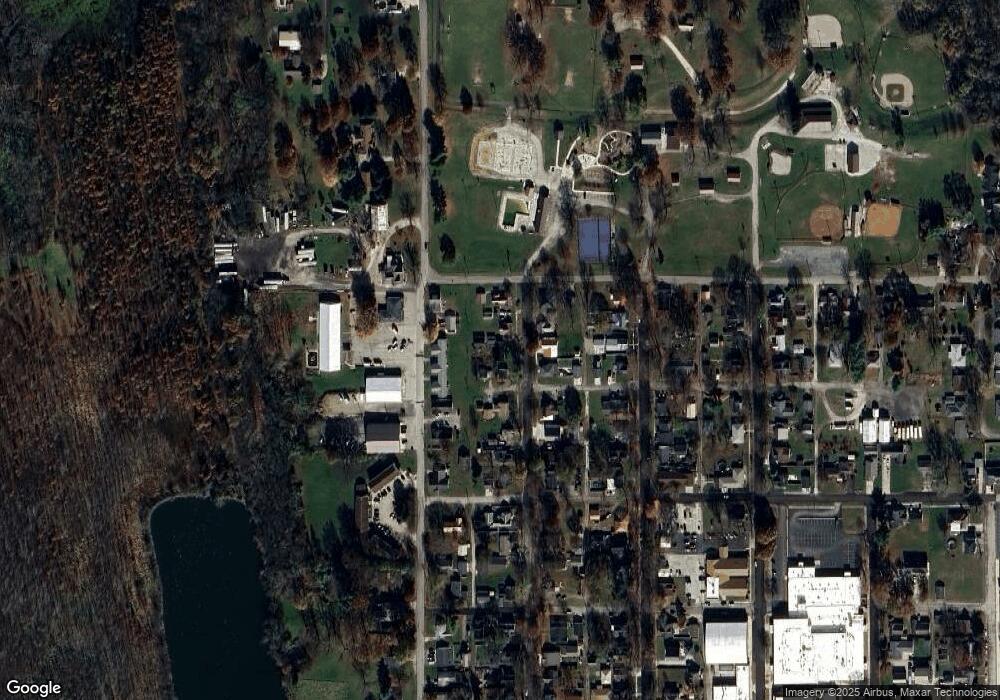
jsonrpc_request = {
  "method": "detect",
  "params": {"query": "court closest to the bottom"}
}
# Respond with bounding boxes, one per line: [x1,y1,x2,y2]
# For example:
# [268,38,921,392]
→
[578,219,610,263]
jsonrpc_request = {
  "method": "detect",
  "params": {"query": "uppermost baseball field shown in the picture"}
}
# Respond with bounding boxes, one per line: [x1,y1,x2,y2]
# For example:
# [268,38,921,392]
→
[808,14,843,49]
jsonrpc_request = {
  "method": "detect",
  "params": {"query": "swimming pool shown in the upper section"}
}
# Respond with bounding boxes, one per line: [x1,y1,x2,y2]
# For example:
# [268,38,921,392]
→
[497,191,531,233]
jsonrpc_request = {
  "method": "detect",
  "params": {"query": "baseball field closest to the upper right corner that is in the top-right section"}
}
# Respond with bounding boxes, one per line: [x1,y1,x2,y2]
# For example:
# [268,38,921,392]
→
[880,73,913,110]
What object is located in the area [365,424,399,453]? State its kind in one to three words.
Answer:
building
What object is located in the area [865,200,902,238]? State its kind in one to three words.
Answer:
baseball field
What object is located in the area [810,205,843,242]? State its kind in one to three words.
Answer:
baseball field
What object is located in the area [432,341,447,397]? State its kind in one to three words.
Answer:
house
